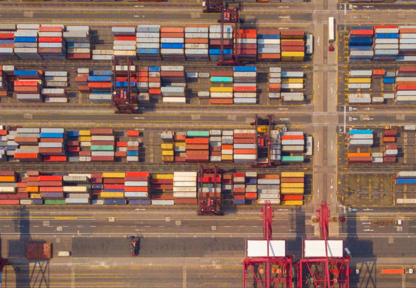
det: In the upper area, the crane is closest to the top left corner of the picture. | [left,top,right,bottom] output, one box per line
[110,57,141,113]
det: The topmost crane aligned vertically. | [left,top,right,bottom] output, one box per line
[218,9,244,66]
